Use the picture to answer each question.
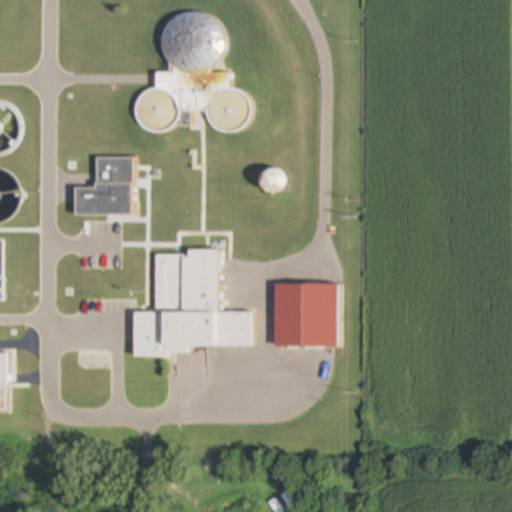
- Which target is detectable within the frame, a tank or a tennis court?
tank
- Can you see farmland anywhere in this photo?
Yes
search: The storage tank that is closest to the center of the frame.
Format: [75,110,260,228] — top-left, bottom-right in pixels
[259,166,288,195]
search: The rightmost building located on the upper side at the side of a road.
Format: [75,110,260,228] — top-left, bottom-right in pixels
[155,60,236,126]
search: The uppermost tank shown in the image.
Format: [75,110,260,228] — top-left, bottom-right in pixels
[162,10,229,72]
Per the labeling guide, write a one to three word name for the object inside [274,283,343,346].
building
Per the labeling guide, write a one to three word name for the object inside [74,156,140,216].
building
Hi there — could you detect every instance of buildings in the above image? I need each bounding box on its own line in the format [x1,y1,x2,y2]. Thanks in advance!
[274,283,343,346]
[74,156,140,216]
[0,241,8,302]
[0,352,16,412]
[133,248,258,358]
[155,60,236,126]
